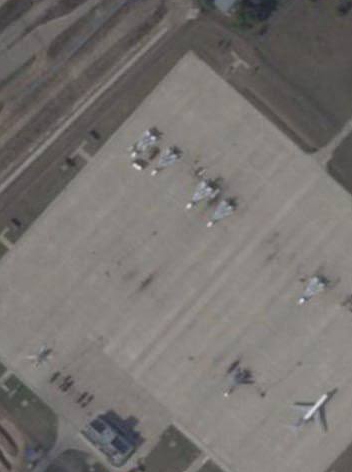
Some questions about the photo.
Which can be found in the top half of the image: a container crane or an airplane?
airplane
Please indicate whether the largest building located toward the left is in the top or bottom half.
bottom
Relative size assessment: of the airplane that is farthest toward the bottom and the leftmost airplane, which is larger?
the airplane that is farthest toward the bottom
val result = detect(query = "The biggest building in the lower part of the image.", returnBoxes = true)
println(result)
[84,415,135,465]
